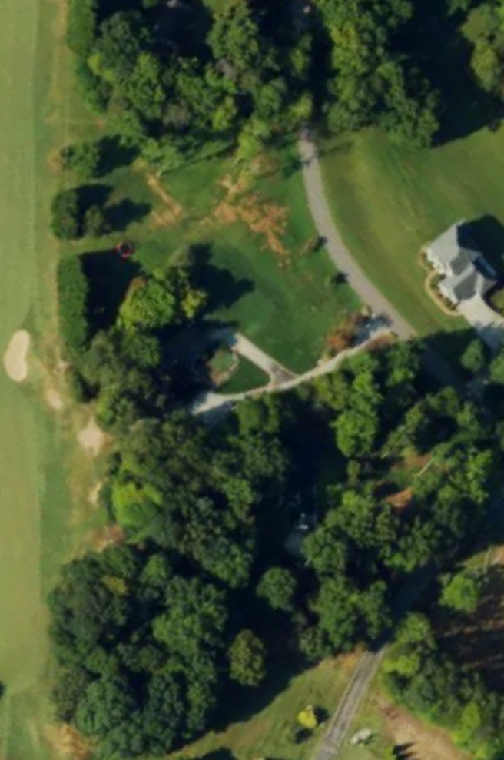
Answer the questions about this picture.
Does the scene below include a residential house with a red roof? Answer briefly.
No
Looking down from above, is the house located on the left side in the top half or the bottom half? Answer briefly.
top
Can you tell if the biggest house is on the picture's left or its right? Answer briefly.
right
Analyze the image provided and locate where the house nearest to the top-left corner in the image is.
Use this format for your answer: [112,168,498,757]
[150,2,206,49]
